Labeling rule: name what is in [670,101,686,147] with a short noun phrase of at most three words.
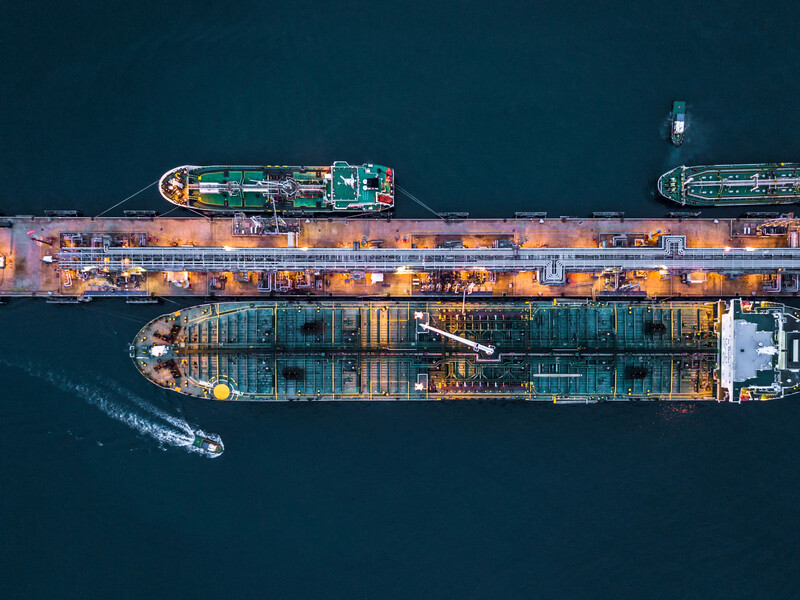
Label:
boat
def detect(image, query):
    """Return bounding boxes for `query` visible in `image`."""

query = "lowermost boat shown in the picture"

[193,437,225,453]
